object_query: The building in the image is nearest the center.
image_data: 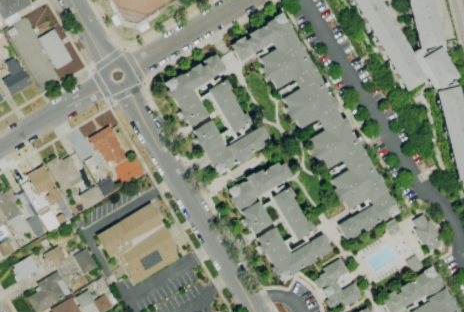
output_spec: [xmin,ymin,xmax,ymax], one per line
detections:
[194,121,270,173]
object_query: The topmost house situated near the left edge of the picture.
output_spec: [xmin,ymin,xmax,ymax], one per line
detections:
[0,0,30,26]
